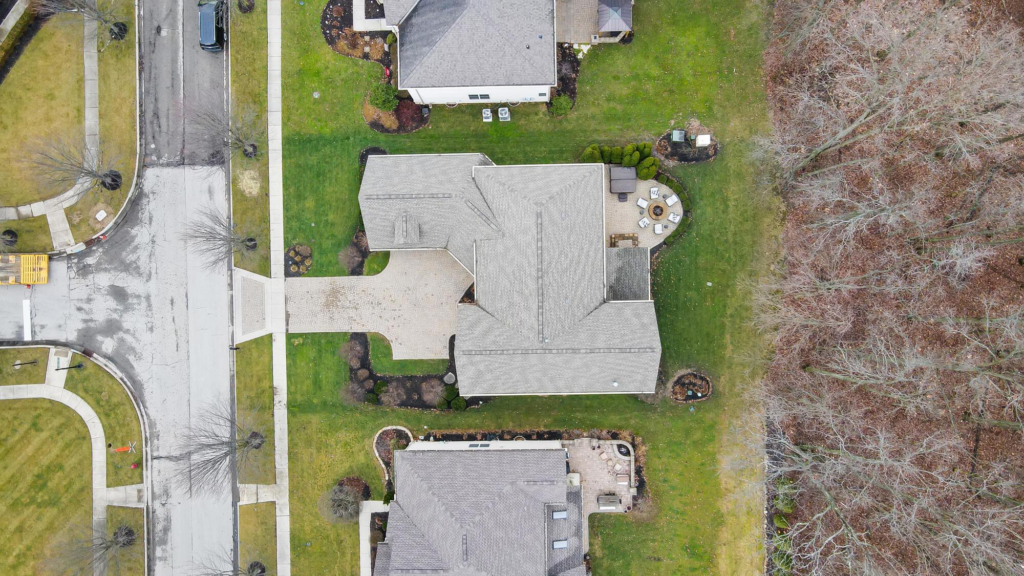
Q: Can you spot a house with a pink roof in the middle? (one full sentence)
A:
No, no house with a pink roof is visible in the middle.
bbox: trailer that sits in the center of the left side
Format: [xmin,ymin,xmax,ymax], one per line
[0,255,49,285]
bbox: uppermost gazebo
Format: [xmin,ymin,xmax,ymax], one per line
[595,0,632,42]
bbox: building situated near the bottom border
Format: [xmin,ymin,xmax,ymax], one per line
[373,436,586,576]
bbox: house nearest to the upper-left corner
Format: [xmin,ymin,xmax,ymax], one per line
[384,0,558,110]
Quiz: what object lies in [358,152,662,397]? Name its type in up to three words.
house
